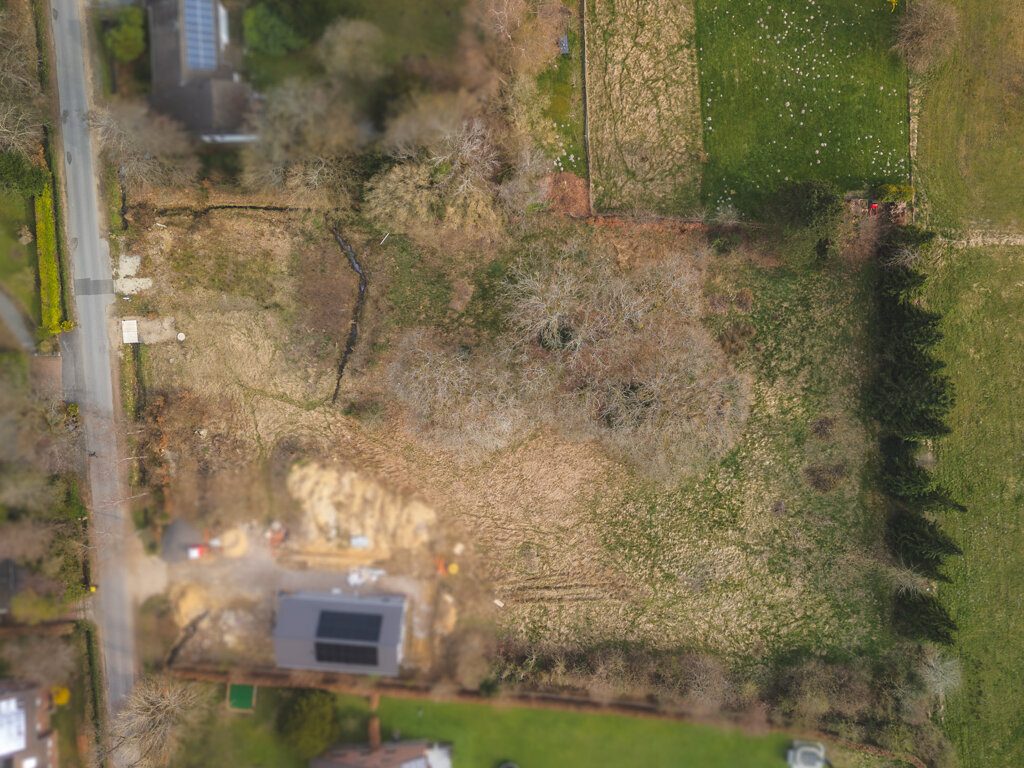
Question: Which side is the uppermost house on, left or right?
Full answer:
The uppermost house sits on the left side.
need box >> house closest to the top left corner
[153,0,265,151]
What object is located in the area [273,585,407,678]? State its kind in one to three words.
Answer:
house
